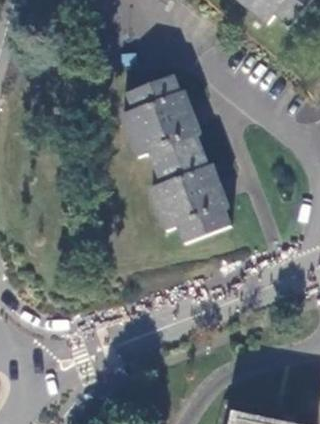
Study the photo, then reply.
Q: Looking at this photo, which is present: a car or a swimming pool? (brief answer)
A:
car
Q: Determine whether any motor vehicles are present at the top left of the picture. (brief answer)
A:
No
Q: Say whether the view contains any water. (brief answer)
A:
No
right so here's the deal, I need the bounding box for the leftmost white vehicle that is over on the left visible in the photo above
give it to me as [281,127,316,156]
[20,308,42,324]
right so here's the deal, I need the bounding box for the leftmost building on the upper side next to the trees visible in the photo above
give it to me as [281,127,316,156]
[126,74,232,248]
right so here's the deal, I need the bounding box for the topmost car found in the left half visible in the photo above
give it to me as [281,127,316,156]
[2,288,19,310]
